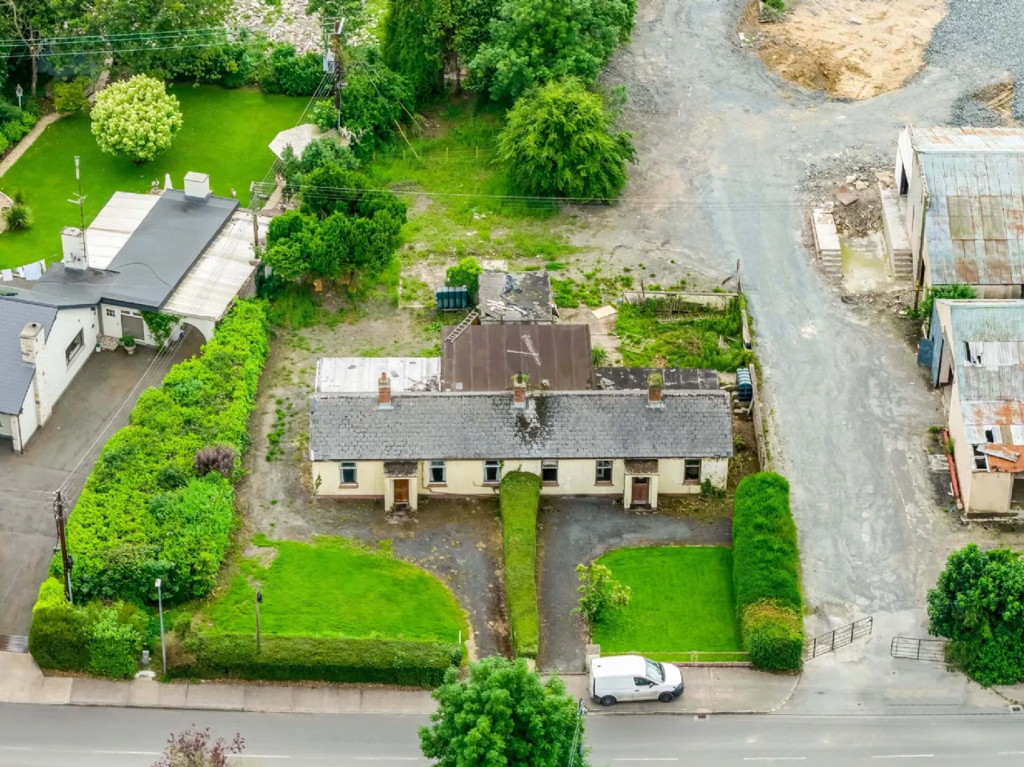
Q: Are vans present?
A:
Yes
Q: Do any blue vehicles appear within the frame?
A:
No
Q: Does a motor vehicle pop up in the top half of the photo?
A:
No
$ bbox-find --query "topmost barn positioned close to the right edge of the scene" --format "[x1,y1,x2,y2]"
[906,125,1024,315]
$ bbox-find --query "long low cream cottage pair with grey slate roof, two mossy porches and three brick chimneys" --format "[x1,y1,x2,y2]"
[307,322,733,512]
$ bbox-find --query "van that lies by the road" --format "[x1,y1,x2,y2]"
[584,653,685,706]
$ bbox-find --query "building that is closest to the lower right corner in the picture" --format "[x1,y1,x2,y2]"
[929,296,1024,518]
